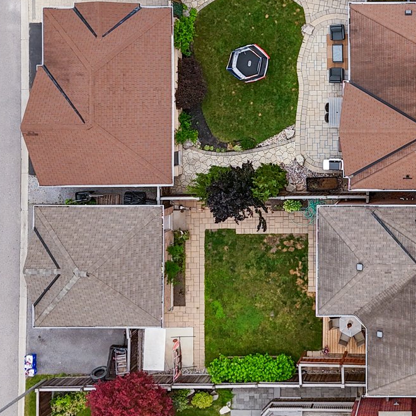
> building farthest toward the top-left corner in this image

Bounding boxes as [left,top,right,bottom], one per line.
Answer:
[19,1,184,188]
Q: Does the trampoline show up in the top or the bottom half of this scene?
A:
top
